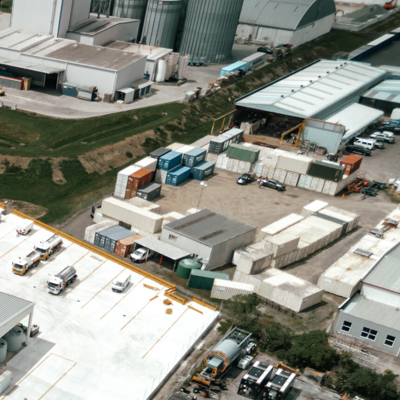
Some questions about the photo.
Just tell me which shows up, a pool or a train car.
train car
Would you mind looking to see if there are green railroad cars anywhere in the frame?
No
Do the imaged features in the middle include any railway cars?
No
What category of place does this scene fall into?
industrial area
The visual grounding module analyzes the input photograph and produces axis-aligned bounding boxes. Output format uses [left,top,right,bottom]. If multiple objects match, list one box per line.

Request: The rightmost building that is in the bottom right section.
[336,235,400,355]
